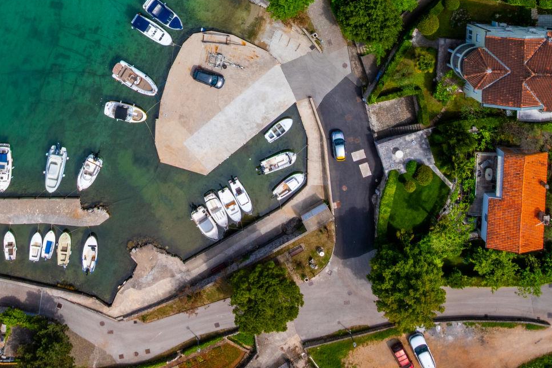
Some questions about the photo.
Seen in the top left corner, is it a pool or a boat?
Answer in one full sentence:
Looking in the top left corner, you will find a boat.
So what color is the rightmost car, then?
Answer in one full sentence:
The rightmost car looks white in the image.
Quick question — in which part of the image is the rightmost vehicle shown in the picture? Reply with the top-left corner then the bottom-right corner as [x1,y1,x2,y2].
[410,332,436,368]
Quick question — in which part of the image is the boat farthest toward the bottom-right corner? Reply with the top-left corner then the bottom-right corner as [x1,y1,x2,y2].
[270,174,305,199]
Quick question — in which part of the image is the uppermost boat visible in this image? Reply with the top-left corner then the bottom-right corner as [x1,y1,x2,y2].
[146,0,182,30]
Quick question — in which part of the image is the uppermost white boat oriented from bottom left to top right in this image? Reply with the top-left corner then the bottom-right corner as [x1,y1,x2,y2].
[264,119,293,144]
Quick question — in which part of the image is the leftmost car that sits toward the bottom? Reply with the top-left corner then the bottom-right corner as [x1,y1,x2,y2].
[388,337,411,368]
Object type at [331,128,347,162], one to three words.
car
